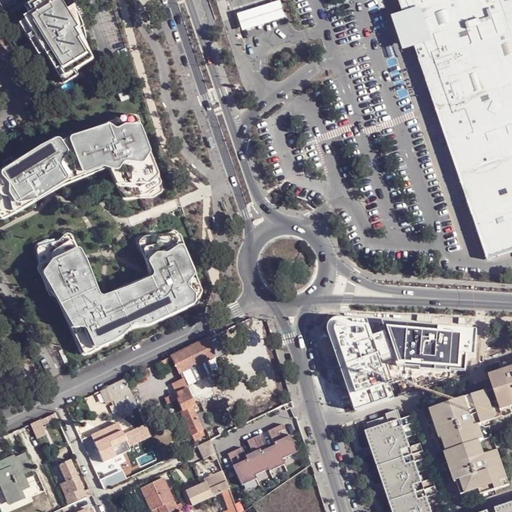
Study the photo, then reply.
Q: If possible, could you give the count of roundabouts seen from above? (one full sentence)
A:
There is 1 roundabout in the image.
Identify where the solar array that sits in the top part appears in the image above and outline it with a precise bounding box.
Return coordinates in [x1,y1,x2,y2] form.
[6,142,54,176]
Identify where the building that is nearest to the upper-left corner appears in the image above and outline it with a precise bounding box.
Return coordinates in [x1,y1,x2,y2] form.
[18,0,94,78]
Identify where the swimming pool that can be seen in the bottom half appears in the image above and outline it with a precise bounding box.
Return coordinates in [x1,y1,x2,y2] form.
[136,451,157,467]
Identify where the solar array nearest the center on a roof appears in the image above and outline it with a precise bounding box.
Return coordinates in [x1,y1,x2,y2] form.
[96,296,171,336]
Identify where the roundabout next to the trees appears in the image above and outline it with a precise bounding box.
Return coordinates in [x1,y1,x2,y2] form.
[240,220,334,312]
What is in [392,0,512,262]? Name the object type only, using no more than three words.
building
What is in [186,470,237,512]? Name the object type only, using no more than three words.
house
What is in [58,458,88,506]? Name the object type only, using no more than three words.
house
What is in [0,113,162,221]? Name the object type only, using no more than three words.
building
